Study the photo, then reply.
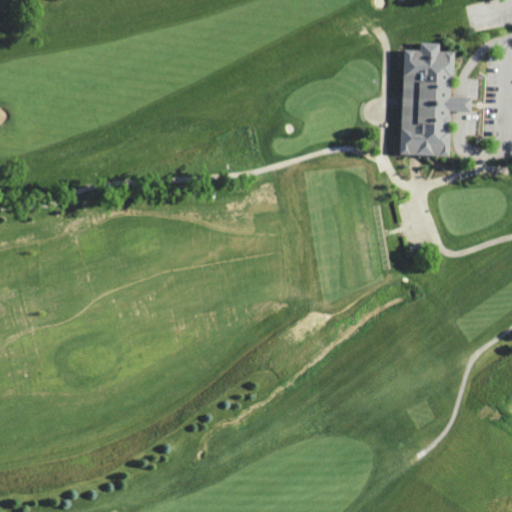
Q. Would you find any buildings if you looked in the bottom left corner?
No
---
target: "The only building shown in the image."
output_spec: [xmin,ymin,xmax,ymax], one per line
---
[400,43,470,158]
